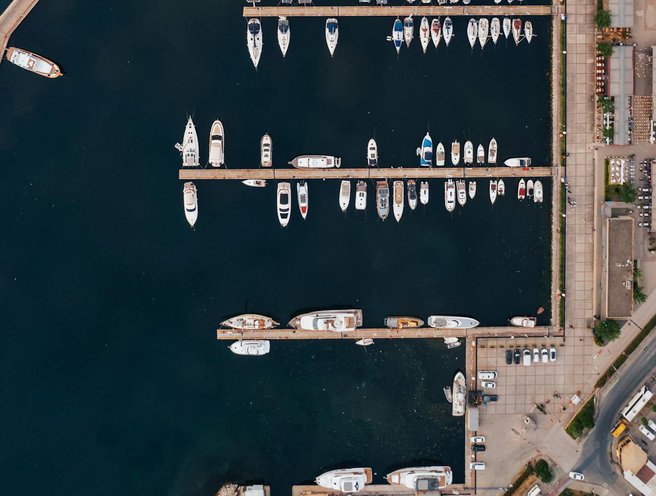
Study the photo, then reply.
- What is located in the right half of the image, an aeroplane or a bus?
bus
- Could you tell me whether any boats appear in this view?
Yes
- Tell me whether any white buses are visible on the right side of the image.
Yes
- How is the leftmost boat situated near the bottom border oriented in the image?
from left to right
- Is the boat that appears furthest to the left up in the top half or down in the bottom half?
top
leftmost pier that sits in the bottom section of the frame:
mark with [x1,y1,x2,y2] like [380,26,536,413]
[218,326,466,340]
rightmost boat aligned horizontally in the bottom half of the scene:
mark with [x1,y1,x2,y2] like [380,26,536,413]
[510,314,537,327]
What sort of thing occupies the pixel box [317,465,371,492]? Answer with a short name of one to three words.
boat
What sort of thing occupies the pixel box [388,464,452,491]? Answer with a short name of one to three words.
boat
